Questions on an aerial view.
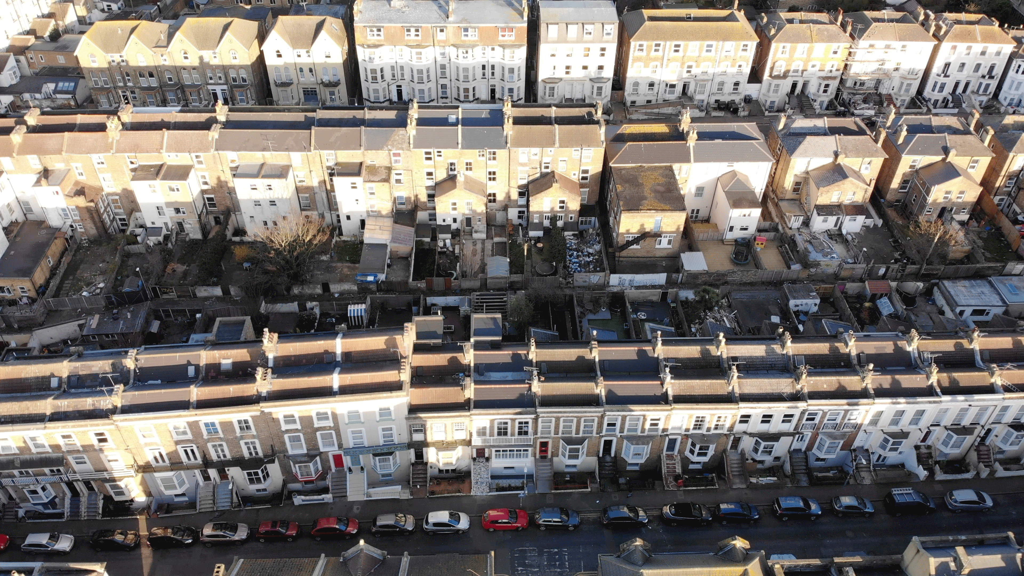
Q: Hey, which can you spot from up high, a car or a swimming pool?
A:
car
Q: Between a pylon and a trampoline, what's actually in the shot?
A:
trampoline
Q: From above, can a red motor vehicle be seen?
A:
Yes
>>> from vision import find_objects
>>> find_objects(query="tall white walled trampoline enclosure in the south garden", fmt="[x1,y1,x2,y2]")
[898,280,929,308]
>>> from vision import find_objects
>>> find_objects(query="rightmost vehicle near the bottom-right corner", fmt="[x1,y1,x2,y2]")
[941,489,993,514]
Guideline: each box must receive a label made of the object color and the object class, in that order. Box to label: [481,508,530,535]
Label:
red car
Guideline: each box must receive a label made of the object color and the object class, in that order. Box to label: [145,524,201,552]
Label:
black car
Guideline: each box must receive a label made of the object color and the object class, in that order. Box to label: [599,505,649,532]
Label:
black car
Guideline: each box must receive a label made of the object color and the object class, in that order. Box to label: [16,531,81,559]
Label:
gray car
